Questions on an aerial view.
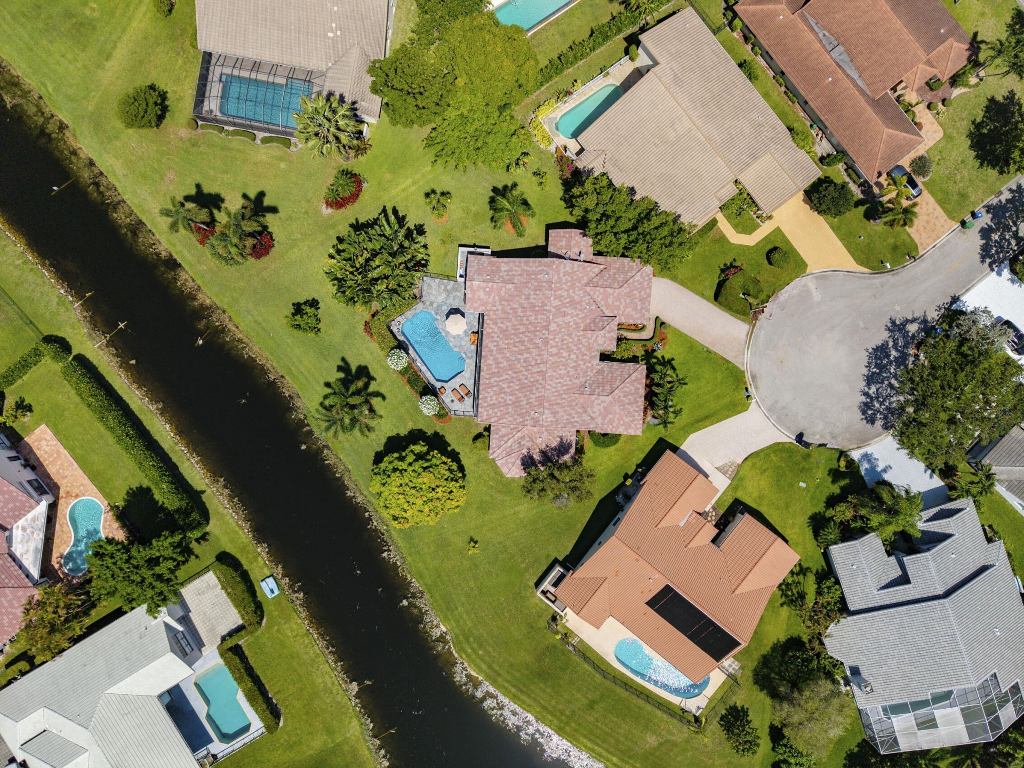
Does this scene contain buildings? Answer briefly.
Yes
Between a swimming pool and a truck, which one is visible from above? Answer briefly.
swimming pool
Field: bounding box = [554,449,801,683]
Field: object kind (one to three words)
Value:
house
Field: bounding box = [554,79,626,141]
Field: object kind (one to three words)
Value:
swimming pool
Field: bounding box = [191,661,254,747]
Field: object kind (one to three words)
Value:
swimming pool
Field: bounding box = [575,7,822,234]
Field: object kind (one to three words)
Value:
house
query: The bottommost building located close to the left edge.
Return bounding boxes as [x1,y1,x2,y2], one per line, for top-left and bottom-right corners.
[0,600,202,768]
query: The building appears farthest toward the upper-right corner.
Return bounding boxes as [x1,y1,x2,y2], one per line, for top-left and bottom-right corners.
[732,0,977,185]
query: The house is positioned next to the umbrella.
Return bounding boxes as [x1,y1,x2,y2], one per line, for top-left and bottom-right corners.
[465,229,652,478]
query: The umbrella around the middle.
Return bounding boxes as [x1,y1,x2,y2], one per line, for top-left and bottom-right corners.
[446,314,467,335]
